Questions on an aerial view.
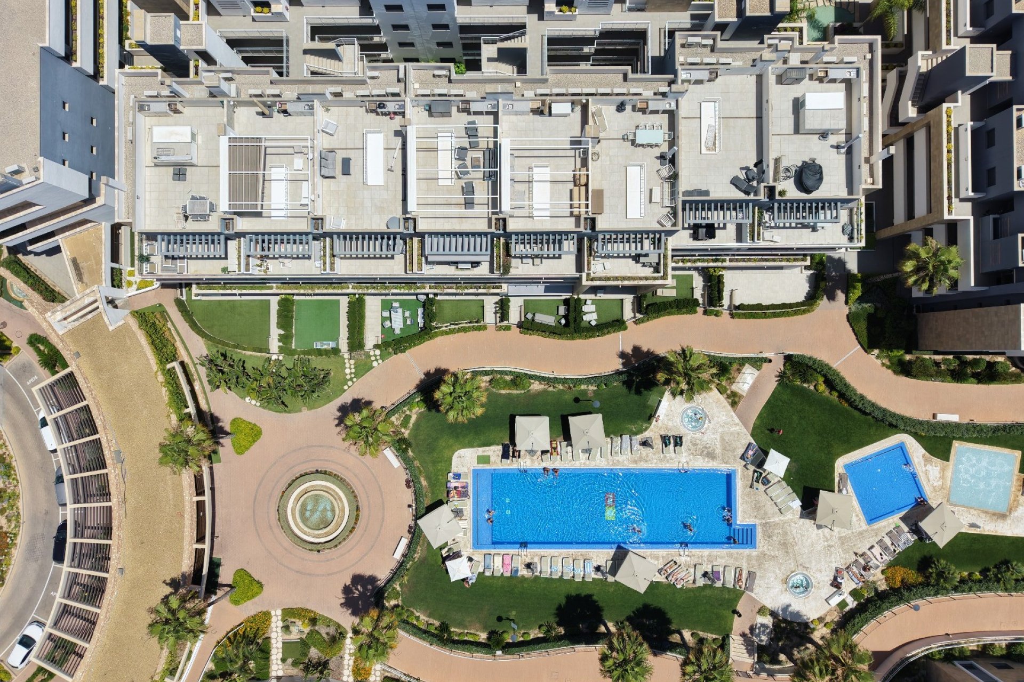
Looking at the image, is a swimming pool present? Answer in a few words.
Yes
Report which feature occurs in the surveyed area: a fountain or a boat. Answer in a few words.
fountain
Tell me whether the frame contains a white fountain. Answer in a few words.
Yes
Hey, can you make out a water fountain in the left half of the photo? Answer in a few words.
Yes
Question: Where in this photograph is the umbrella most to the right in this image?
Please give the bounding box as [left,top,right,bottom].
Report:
[905,502,967,550]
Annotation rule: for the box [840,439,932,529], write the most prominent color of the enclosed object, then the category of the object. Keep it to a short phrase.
blue swimming pool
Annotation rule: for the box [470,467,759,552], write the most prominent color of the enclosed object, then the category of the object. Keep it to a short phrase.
blue swimming pool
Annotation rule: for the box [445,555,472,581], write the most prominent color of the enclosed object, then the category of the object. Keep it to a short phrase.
white umbrella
